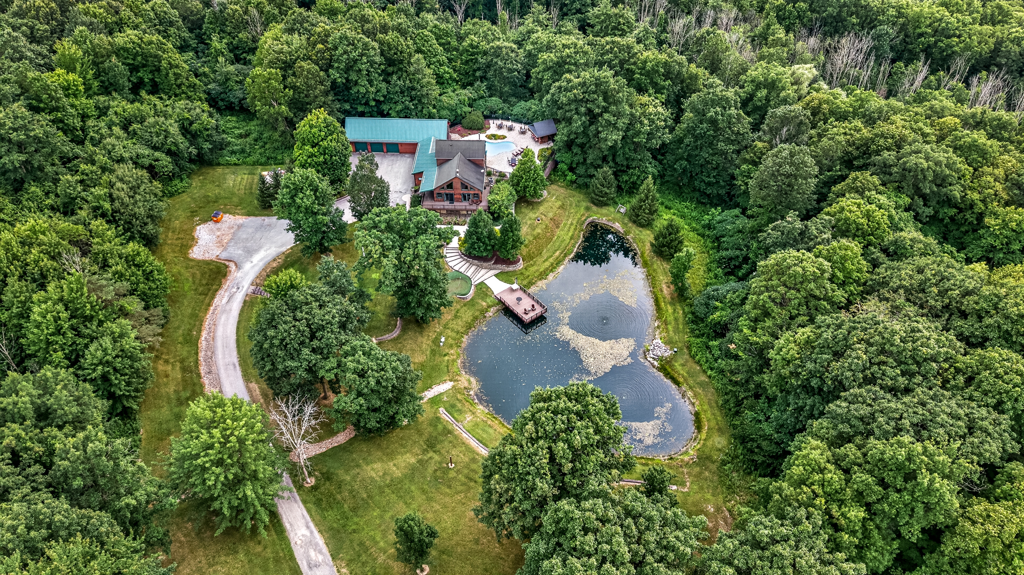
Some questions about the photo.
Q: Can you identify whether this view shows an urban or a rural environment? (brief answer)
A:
rural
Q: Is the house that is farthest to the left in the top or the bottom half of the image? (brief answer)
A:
top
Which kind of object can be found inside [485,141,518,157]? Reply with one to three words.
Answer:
swimming pool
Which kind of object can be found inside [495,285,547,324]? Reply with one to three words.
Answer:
pier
